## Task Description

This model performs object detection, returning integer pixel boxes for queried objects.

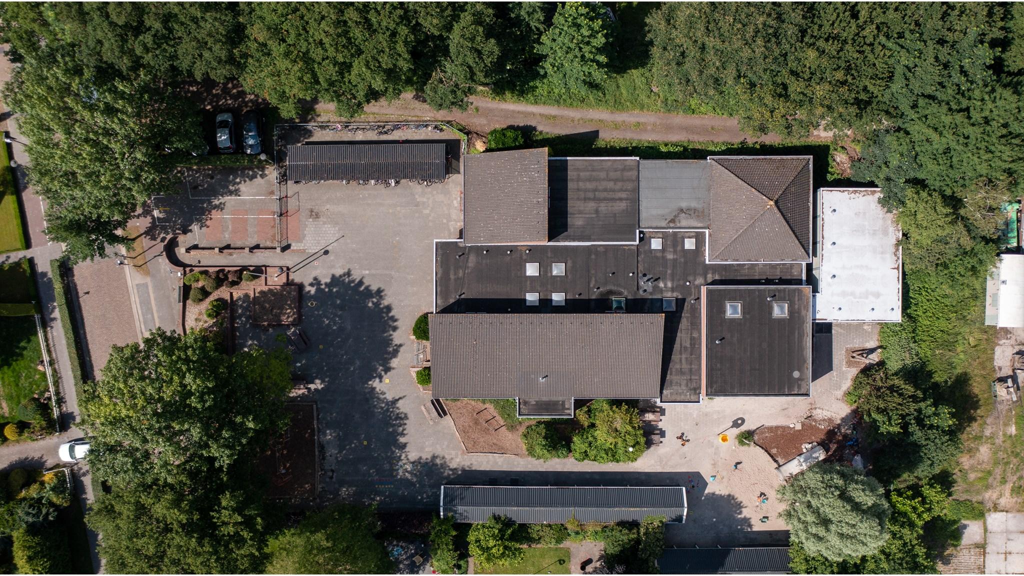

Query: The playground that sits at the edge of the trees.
[151,126,882,542]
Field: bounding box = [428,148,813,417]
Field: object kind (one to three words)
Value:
building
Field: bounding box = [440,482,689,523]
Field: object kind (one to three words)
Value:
shed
